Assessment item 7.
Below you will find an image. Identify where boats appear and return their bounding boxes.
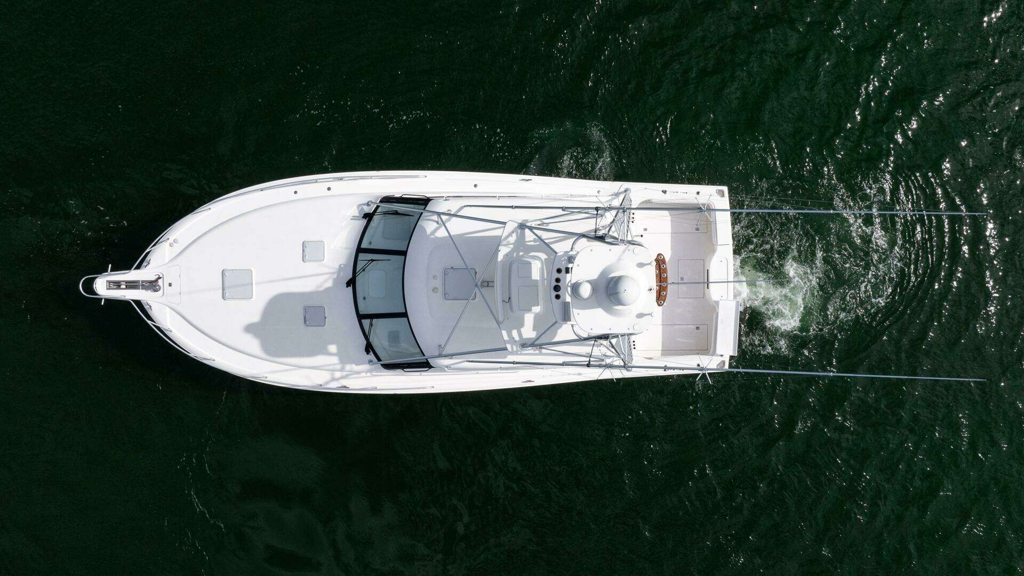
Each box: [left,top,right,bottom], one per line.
[79,170,986,394]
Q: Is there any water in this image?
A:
Yes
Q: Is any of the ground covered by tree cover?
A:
No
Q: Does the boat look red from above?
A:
No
